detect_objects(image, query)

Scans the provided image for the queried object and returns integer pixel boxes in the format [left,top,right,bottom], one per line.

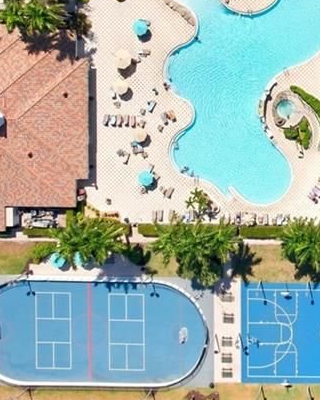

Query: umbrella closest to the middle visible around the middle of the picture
[138,171,154,187]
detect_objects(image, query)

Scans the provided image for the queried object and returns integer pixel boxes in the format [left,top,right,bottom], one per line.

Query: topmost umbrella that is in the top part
[133,21,148,35]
